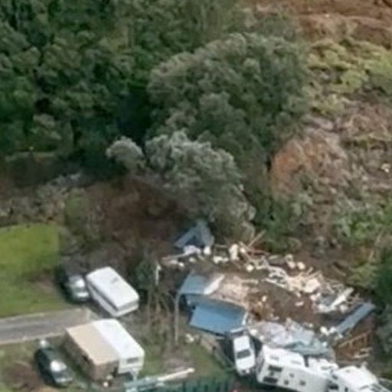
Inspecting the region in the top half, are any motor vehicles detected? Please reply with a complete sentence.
No, I see no motor vehicle in the top half.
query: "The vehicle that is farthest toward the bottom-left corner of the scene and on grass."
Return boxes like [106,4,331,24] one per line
[36,347,73,384]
